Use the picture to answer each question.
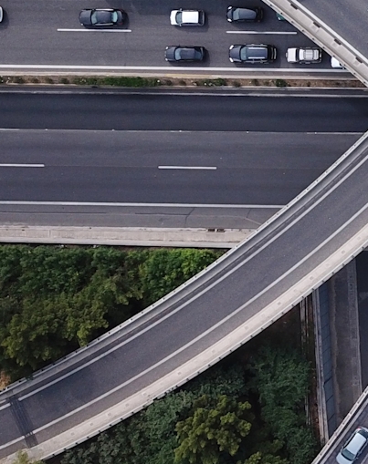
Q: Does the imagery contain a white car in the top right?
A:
Yes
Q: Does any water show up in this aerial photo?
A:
No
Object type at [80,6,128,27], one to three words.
car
